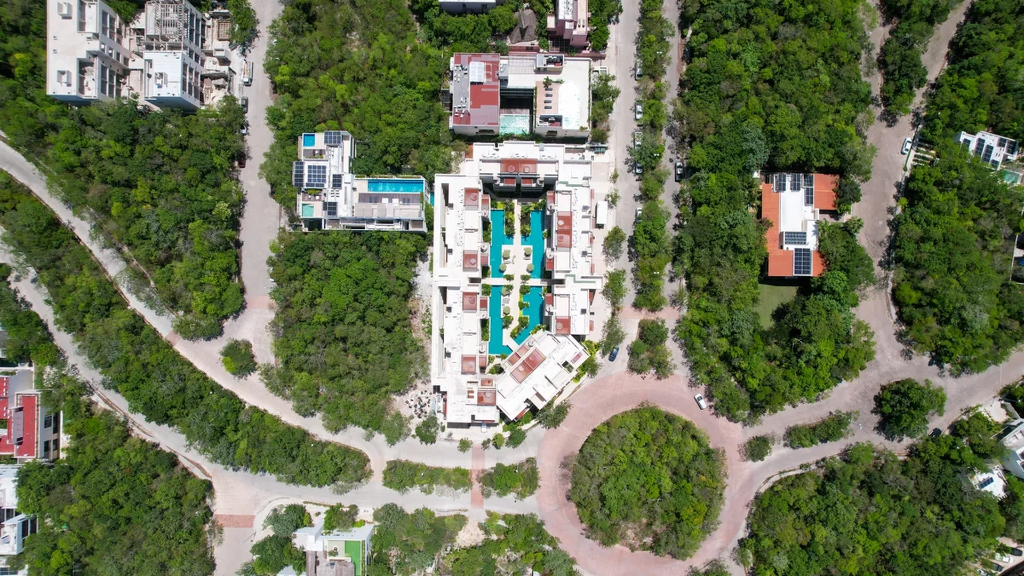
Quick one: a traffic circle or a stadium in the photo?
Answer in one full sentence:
I can see a traffic circle in this picture.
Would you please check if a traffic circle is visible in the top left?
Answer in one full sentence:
No, looking in the top left, there is no traffic circle.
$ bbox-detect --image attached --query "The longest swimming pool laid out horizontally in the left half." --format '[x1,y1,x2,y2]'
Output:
[368,180,424,192]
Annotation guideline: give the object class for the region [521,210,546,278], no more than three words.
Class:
swimming pool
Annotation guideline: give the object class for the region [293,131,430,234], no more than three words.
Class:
building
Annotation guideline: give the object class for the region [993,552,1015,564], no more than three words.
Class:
vehicle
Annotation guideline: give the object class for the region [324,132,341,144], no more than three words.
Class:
solar panel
